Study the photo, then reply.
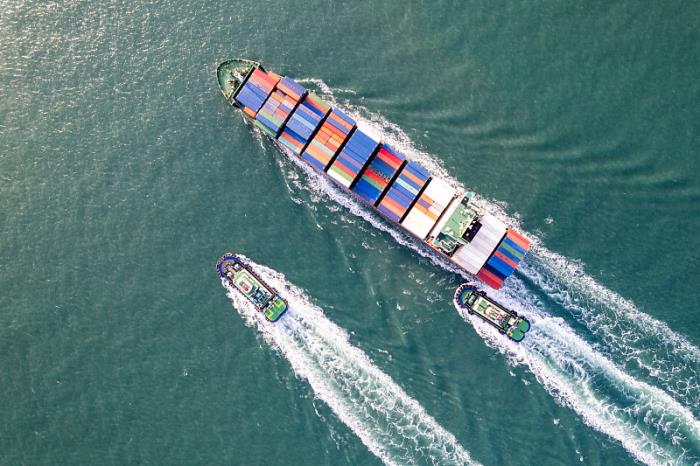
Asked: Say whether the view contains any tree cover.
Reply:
No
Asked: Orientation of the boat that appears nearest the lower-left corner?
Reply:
at an angle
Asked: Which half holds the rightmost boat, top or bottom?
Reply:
bottom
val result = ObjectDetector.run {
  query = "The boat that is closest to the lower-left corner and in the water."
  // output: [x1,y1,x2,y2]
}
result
[215,255,286,318]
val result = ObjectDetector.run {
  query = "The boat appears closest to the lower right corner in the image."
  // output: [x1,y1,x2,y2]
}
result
[455,285,530,342]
